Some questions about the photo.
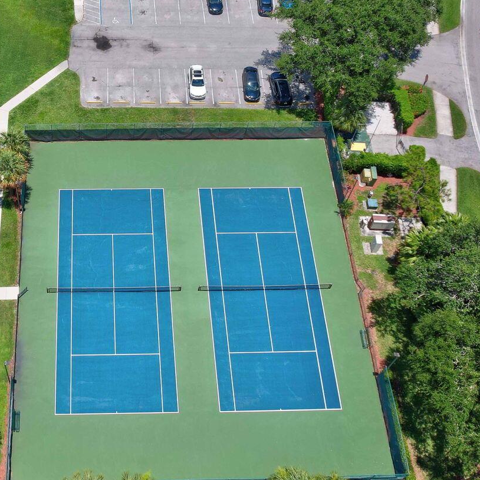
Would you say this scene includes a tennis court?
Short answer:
Yes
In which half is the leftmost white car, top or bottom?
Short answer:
top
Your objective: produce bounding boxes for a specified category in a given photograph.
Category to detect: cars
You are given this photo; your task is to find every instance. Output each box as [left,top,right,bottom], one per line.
[271,72,295,106]
[189,65,210,100]
[242,66,265,101]
[208,0,225,13]
[258,0,277,17]
[282,0,298,9]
